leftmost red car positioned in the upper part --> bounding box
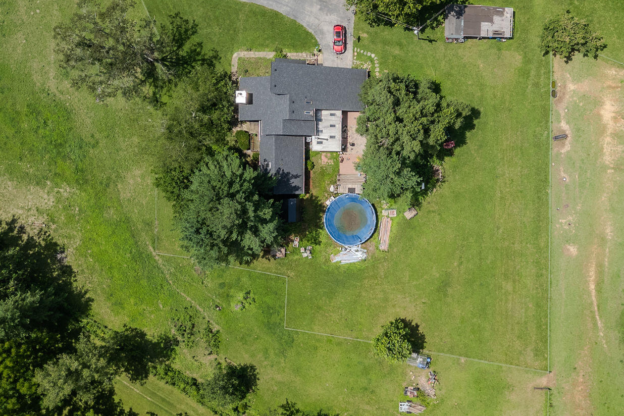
[332,24,347,55]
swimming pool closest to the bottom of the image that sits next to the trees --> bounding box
[324,194,377,246]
